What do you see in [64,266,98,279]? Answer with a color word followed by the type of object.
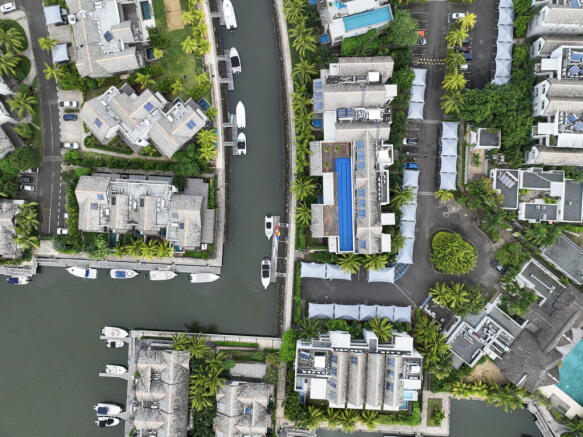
white boat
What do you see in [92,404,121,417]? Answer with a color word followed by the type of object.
white boat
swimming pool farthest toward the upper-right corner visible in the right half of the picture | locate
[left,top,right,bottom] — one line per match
[342,7,389,33]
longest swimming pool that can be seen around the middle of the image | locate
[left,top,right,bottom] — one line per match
[335,157,353,252]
